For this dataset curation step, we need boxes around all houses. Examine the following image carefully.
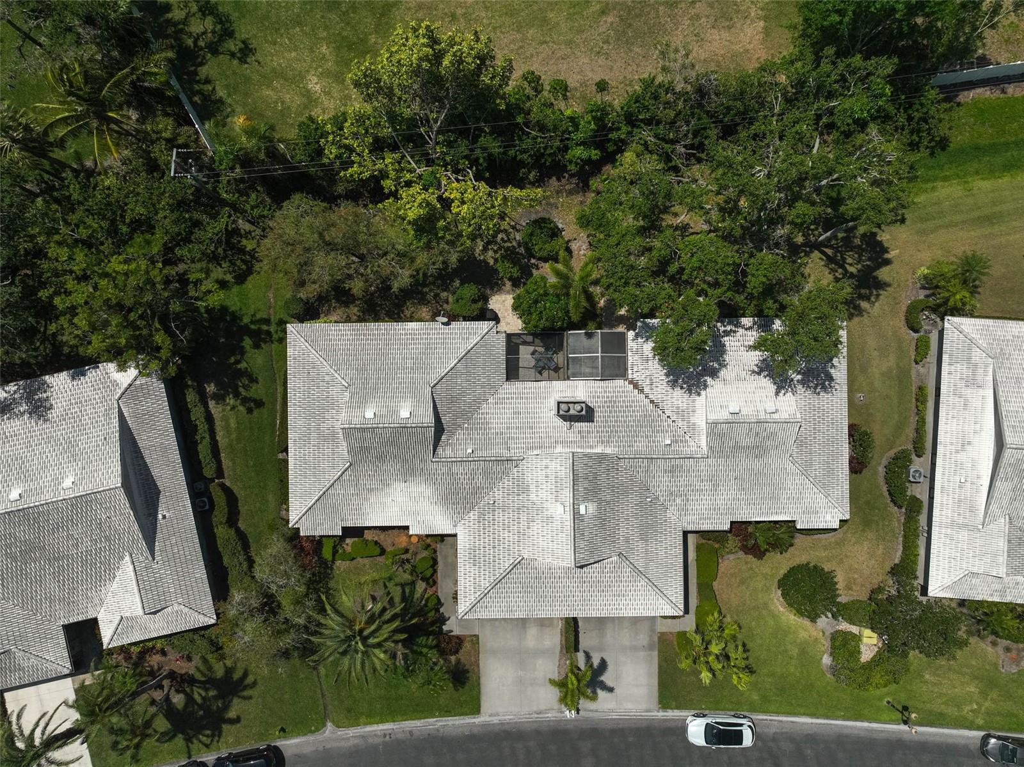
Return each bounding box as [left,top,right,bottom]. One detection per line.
[0,356,228,690]
[286,317,850,619]
[917,316,1024,604]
